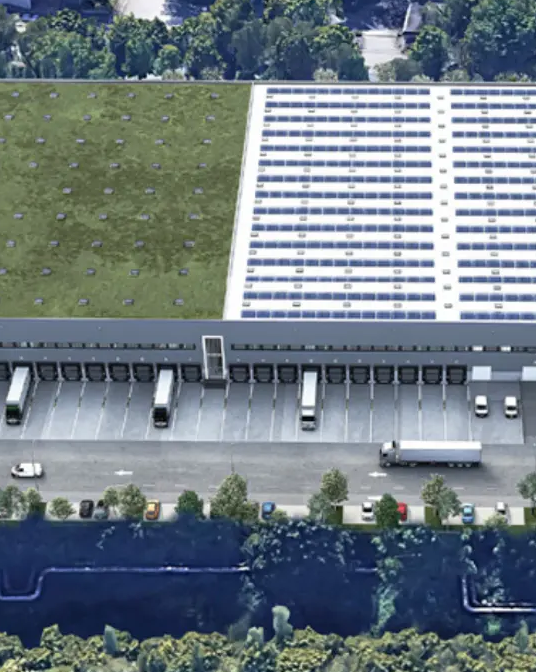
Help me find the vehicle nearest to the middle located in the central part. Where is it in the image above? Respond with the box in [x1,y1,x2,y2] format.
[300,371,319,431]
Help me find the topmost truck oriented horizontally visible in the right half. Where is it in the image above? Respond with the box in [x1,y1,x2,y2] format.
[380,441,483,468]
